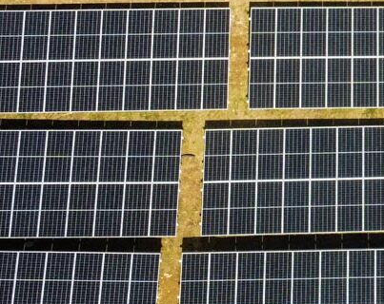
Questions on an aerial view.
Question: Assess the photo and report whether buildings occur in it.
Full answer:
No, there isn't any building down there.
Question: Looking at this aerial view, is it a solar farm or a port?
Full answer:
This looks like a solar farm.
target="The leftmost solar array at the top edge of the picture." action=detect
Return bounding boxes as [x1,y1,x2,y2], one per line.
[0,9,231,112]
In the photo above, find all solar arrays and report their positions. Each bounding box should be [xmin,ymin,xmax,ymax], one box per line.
[200,126,384,236]
[247,6,384,108]
[0,130,184,237]
[179,249,384,304]
[0,252,162,304]
[0,9,231,112]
